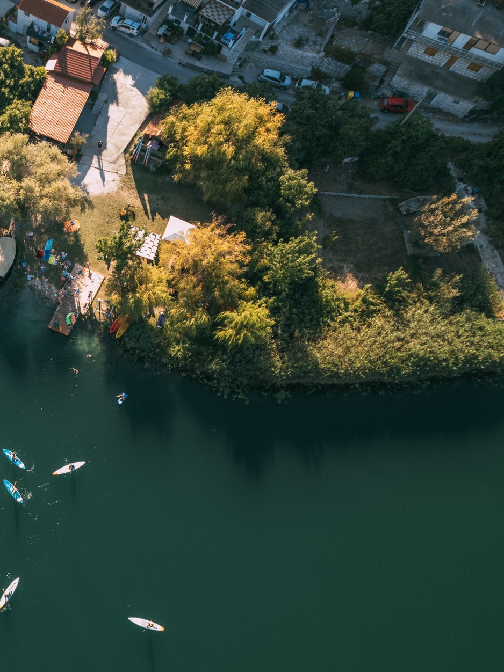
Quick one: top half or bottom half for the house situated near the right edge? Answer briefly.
top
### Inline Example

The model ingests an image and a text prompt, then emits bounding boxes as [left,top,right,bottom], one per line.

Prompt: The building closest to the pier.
[123,227,161,268]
